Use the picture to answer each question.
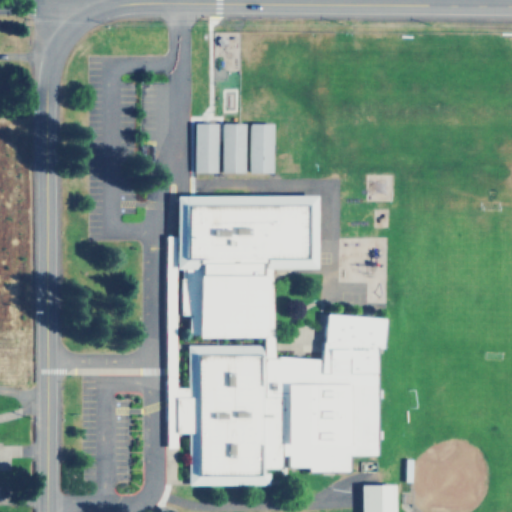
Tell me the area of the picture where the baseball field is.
bottom right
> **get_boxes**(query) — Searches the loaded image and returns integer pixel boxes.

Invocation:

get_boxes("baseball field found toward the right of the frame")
[413,439,489,512]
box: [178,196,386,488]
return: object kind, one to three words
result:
building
